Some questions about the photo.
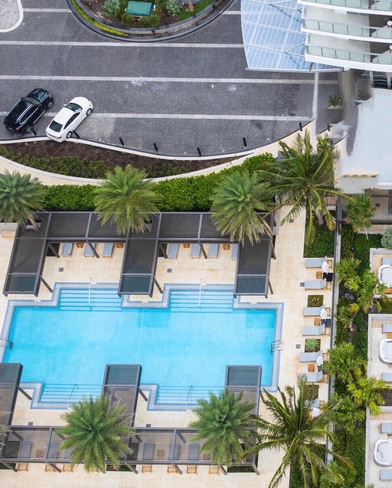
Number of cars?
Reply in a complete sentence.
There are 2 cars in the image.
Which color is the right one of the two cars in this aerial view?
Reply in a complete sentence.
The right one of the two cars is white.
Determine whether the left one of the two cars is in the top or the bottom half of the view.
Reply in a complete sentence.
Seen from above, the left one of the two cars lies in the top half of the view.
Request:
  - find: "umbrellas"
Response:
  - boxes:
[323,263,332,282]
[321,308,330,327]
[315,356,326,373]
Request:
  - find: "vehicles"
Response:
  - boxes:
[4,91,49,133]
[40,98,91,142]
